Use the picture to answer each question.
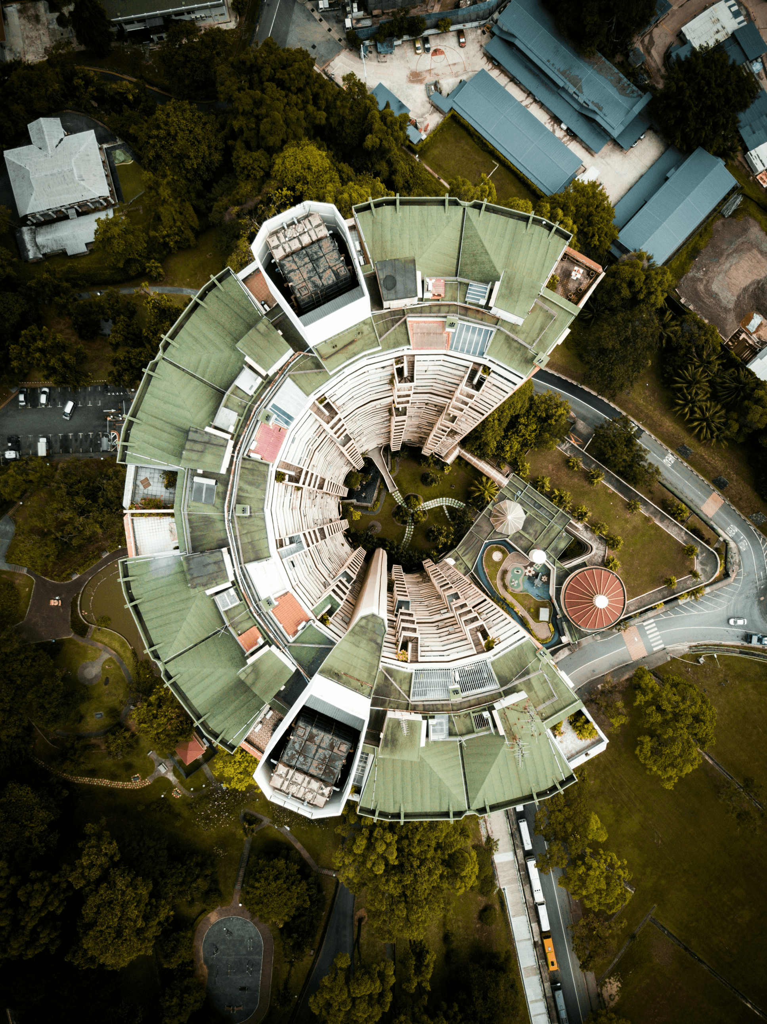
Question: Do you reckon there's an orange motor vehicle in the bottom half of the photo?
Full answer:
Yes, in the bottom half of the photo there is an orange motor vehicle.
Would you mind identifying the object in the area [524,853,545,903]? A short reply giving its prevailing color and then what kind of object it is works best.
white bus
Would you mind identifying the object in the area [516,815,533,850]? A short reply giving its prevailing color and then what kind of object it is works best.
white vehicle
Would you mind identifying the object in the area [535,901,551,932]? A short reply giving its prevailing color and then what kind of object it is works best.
white vehicle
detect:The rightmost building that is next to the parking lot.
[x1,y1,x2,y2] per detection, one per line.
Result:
[115,193,609,825]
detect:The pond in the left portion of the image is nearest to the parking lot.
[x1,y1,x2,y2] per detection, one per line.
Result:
[80,562,160,672]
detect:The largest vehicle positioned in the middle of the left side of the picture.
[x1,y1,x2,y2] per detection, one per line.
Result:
[37,438,50,457]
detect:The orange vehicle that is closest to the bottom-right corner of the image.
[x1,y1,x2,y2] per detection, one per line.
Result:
[540,931,559,971]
